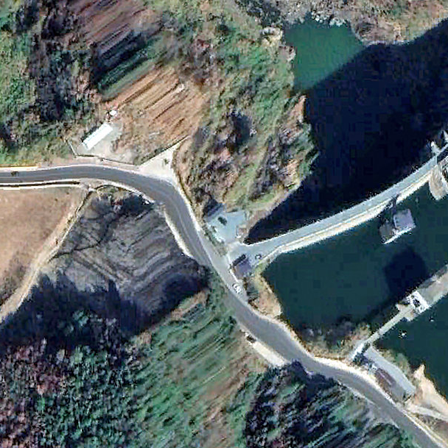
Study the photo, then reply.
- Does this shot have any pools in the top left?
No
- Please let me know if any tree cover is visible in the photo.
Yes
